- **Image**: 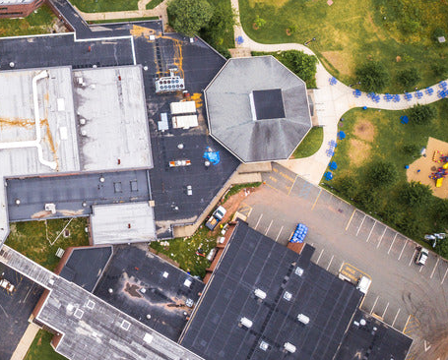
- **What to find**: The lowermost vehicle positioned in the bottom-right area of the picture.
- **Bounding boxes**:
[353,269,374,296]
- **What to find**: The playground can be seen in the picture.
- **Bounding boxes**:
[407,137,448,194]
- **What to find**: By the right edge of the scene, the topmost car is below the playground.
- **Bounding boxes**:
[416,246,433,269]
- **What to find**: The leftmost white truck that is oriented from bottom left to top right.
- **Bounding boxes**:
[205,204,228,231]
